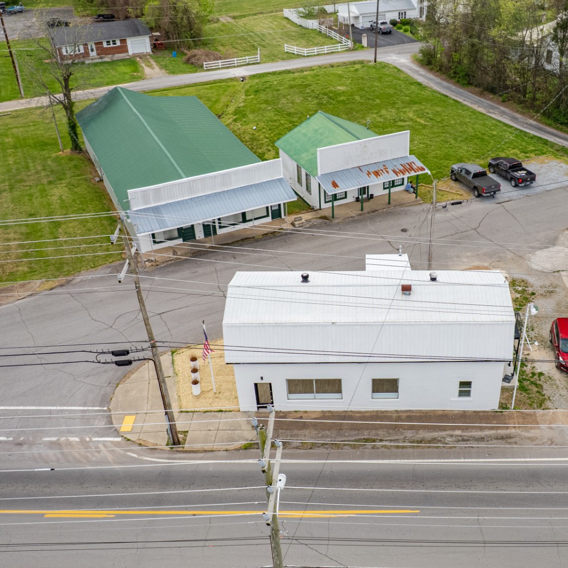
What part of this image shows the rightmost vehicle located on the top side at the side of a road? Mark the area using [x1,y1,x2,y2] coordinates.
[484,149,546,187]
